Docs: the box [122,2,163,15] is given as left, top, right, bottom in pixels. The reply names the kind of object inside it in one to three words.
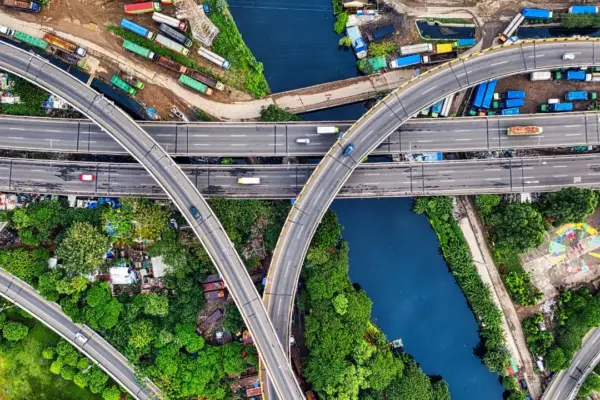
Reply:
vehicle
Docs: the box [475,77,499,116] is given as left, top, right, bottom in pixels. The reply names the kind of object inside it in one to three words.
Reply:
truck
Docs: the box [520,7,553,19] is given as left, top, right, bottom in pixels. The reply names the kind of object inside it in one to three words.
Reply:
vehicle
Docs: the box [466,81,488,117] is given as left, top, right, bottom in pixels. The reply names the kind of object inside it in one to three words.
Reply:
truck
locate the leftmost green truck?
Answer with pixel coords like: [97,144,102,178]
[0,23,51,50]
